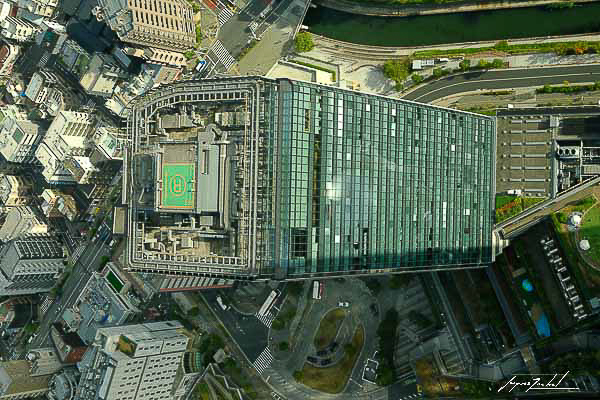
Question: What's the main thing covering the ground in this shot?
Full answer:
The bulk of the photo consists of buildings.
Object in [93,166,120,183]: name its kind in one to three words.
house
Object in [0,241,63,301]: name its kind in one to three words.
building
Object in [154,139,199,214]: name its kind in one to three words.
helipad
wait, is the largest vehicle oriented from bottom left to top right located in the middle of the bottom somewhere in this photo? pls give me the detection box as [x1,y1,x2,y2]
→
[257,290,276,313]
